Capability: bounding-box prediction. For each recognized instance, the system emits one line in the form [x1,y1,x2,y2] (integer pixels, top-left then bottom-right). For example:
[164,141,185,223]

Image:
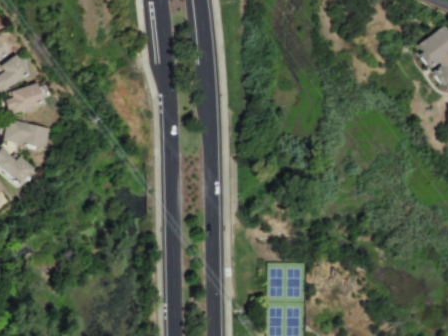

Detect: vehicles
[206,224,212,234]
[215,180,220,194]
[172,124,177,136]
